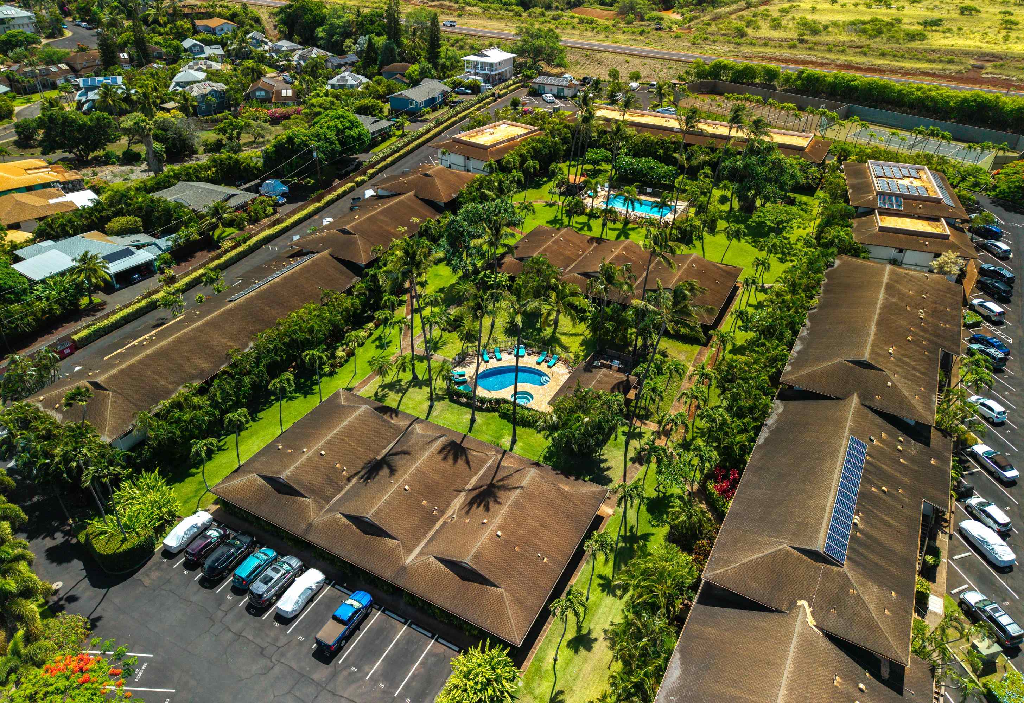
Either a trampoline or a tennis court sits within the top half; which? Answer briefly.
tennis court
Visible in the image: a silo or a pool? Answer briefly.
pool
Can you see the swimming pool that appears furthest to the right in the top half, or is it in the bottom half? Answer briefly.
top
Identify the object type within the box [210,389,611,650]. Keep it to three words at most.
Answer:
building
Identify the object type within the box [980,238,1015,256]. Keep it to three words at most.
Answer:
car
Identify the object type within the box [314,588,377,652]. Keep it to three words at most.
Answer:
truck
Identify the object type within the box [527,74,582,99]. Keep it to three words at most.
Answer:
house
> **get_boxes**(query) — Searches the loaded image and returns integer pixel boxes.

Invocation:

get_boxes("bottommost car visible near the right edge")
[957,591,1024,648]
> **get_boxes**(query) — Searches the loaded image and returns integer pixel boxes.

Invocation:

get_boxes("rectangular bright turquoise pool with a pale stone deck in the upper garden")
[581,187,685,224]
